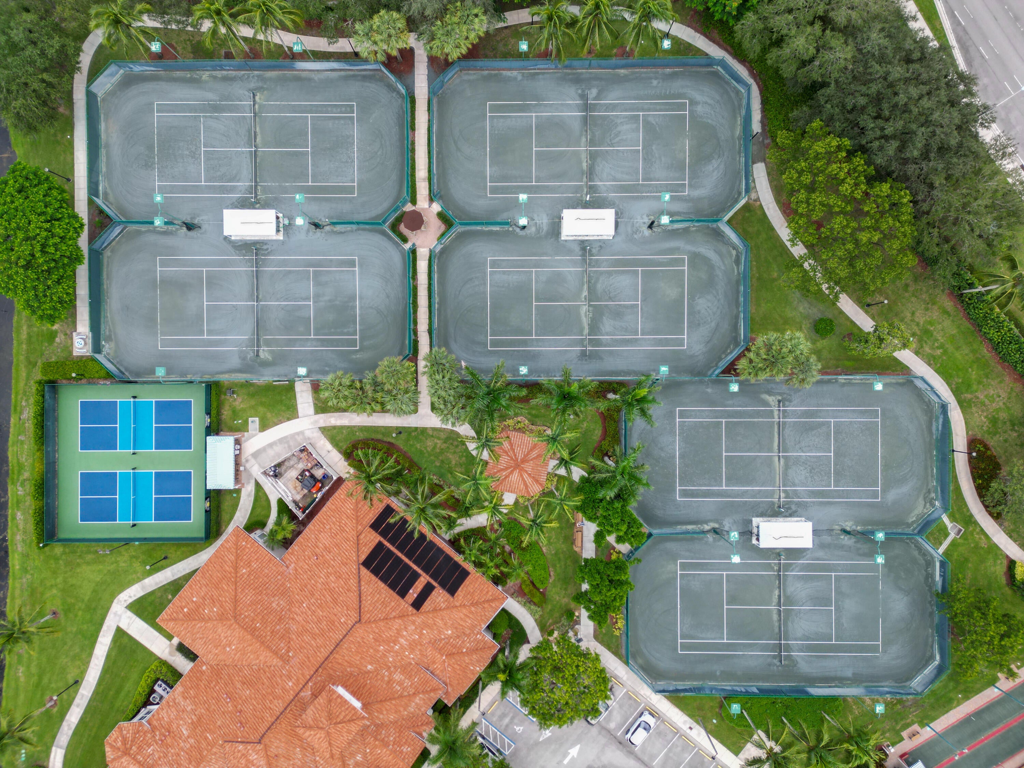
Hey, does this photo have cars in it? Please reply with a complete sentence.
Yes, the picture does show a car.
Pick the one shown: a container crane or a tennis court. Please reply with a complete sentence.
The image shows a tennis court.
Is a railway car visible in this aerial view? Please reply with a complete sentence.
No, the frame has no railway car in it.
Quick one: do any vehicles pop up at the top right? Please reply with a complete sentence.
No, no vehicle can be made out at the top right.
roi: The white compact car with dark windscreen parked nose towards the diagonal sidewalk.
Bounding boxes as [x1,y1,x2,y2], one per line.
[624,711,656,748]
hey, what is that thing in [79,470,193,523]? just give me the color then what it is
blue sports court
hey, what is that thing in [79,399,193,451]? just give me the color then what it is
blue sports court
